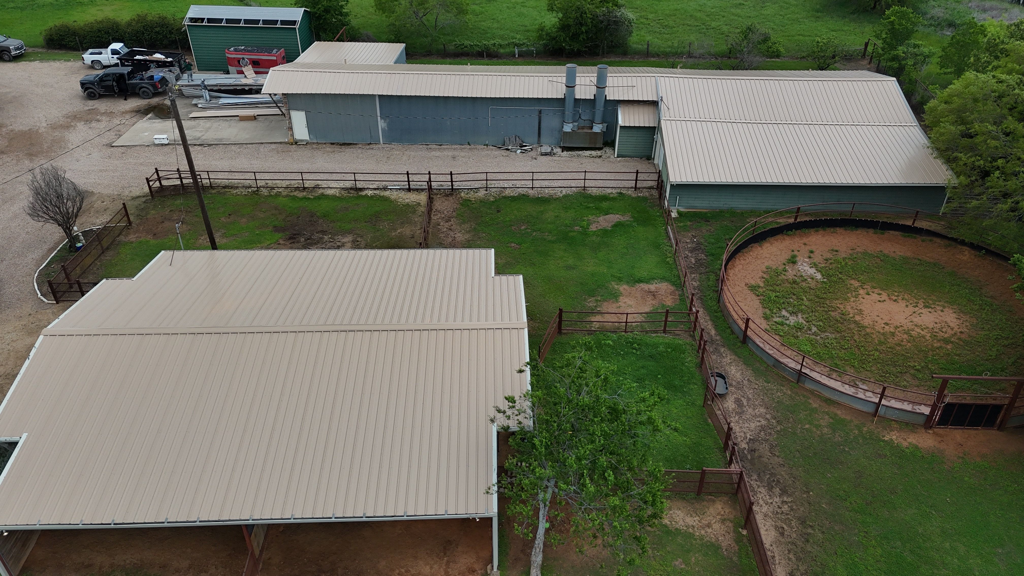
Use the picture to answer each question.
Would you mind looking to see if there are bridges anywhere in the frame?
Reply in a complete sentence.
No, I find no bridge anywhere in the image.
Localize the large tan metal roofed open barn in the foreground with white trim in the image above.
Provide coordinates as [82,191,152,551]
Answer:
[0,245,534,576]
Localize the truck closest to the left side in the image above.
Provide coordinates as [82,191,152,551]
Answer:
[0,31,31,61]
